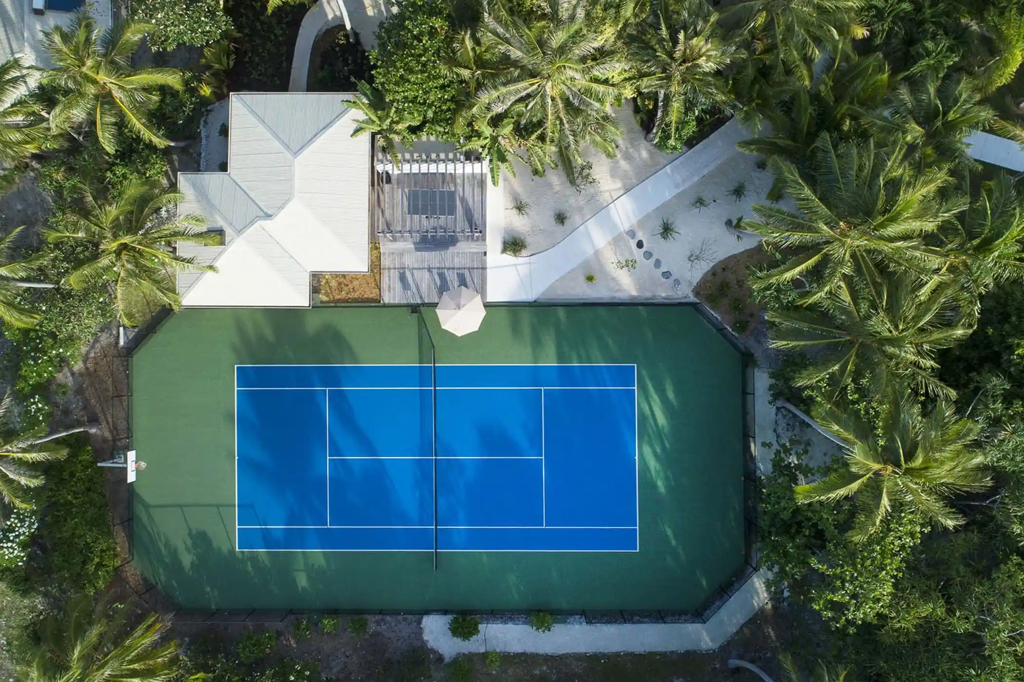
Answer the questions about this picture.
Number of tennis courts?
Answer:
one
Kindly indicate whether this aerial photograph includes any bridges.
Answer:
No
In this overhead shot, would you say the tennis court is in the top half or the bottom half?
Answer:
bottom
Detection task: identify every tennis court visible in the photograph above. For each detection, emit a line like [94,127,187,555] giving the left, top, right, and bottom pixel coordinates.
[132,305,745,610]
